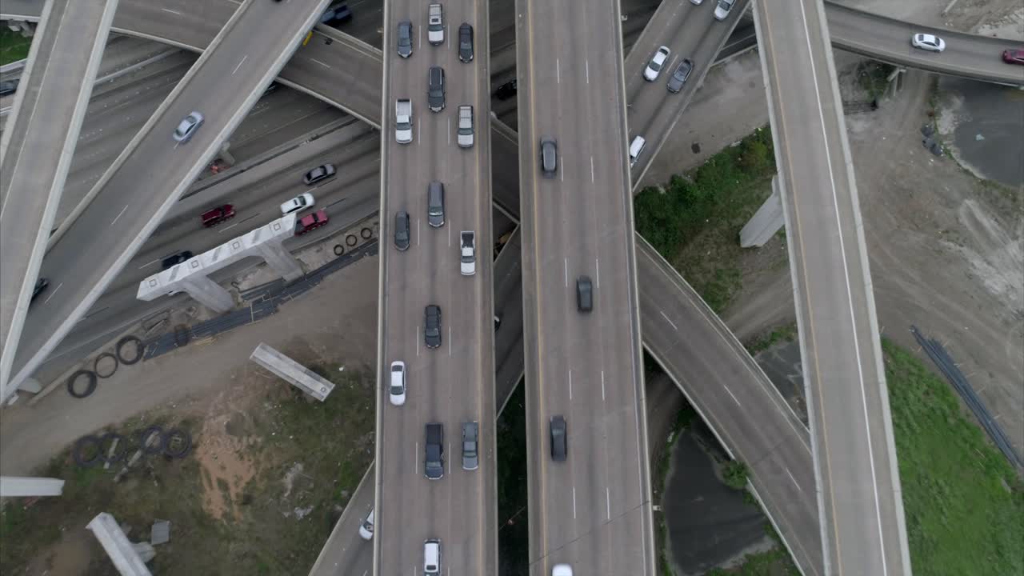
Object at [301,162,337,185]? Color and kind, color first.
gray car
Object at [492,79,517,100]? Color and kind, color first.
black car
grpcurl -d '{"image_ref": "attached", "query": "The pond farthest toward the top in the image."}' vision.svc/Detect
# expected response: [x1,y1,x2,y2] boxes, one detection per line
[954,82,1024,190]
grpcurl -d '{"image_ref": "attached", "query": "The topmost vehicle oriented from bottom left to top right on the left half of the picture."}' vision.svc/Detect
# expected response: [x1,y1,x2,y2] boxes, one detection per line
[319,0,355,24]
